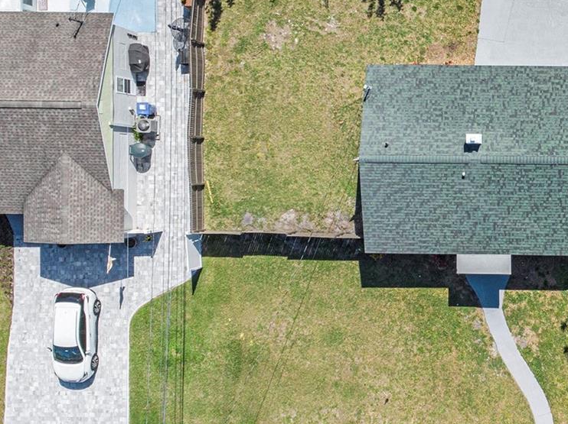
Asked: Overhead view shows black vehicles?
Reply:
No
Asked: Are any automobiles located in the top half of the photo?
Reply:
No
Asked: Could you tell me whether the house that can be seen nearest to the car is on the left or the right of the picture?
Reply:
left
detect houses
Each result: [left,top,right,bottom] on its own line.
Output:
[354,64,568,275]
[0,12,145,246]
